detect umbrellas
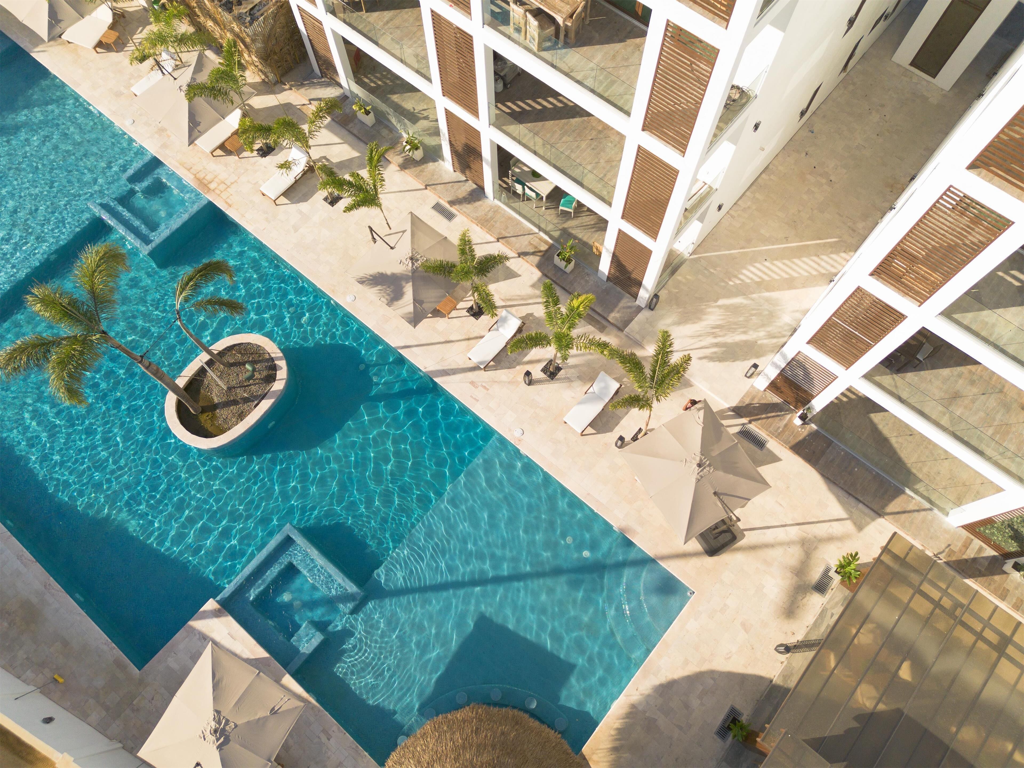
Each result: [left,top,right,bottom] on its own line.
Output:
[0,0,104,43]
[346,212,478,329]
[138,641,307,768]
[619,399,771,551]
[131,52,257,147]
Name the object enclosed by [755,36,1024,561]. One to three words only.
building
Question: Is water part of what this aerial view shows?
Yes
